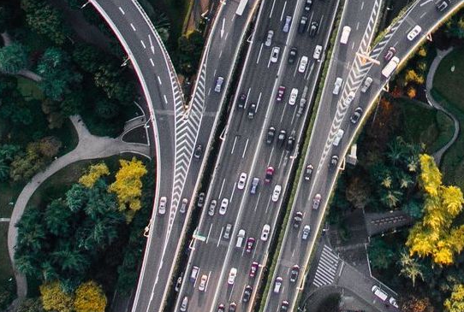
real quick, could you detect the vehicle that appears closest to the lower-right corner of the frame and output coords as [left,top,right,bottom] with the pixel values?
[387,294,401,311]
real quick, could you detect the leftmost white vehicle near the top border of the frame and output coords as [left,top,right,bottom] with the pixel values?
[234,0,250,18]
